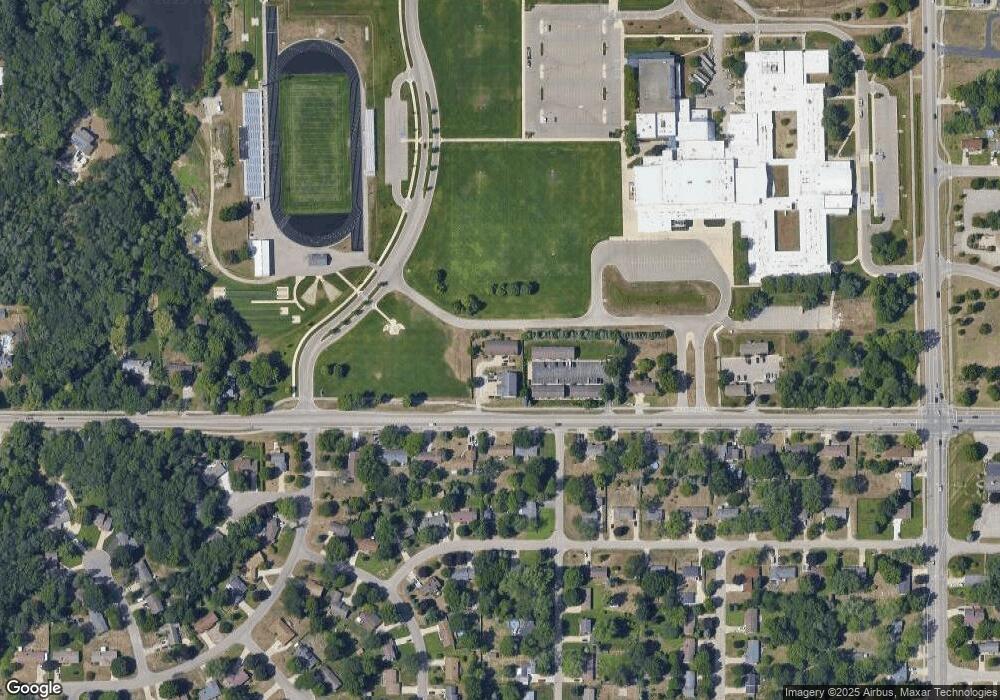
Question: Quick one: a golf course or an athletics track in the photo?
athletics track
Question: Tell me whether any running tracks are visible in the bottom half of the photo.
No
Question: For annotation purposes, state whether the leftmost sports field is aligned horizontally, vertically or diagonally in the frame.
vertically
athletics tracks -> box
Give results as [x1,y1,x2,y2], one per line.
[265,8,364,250]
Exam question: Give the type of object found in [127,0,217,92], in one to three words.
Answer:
pond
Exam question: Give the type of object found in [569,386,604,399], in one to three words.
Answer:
building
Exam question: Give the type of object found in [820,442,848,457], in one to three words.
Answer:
house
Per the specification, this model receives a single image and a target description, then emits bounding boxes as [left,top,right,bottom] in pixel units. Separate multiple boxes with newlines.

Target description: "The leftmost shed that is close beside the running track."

[254,239,270,276]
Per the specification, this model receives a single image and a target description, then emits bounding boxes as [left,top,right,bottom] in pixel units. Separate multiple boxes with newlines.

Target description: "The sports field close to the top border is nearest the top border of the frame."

[418,0,521,139]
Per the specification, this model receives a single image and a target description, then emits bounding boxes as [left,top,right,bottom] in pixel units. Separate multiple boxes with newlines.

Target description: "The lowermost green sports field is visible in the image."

[315,294,472,398]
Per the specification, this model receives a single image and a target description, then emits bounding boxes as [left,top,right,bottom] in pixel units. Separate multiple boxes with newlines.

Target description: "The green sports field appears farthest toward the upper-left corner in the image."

[279,73,351,215]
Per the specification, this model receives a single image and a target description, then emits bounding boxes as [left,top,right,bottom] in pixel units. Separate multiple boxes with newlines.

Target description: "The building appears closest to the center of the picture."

[484,341,518,355]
